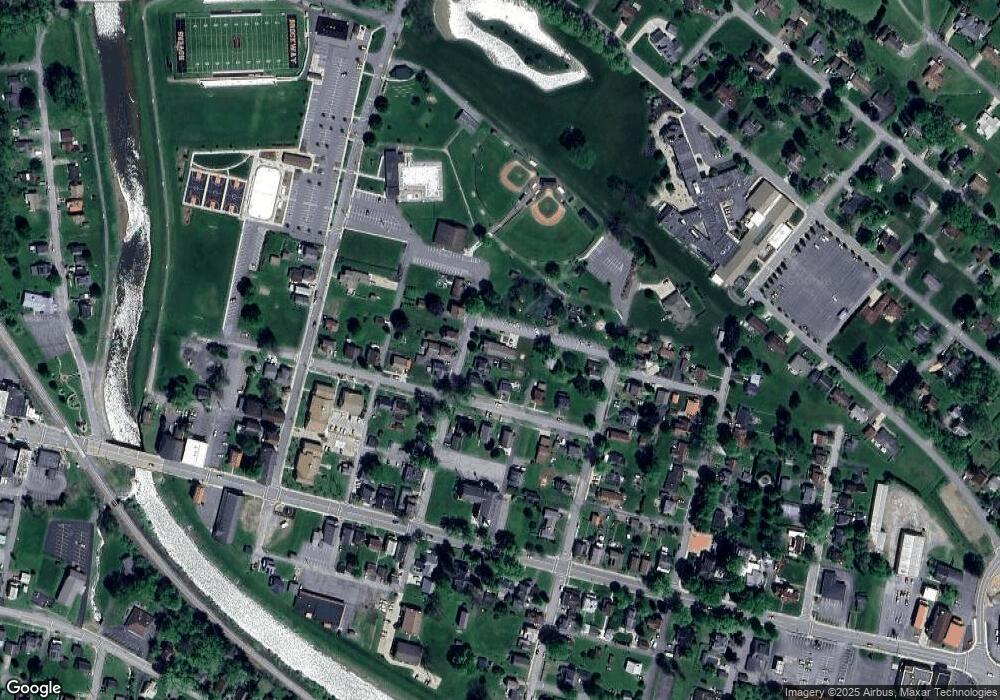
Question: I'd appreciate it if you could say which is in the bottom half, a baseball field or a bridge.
bridge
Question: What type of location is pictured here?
residential area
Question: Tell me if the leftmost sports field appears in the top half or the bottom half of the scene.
top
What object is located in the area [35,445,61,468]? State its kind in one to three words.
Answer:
house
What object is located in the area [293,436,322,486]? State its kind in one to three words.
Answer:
building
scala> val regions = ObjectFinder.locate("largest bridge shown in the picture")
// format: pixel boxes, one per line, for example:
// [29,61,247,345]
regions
[85,438,166,474]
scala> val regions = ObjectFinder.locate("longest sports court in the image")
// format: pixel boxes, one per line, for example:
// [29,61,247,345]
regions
[249,166,281,220]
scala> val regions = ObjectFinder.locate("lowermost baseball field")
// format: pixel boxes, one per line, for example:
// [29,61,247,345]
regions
[496,188,597,262]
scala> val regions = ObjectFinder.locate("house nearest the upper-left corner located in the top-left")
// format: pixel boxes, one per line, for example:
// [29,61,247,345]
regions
[3,80,24,104]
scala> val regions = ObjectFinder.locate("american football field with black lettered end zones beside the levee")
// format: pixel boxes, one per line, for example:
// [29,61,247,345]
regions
[173,11,302,78]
